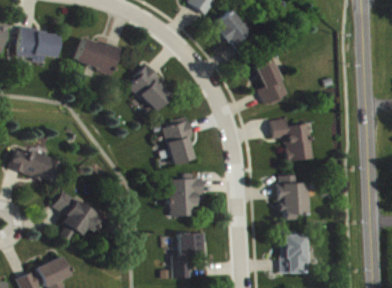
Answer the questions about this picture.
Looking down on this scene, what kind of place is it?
residential area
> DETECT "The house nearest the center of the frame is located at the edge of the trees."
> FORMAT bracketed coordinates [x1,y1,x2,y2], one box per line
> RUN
[160,120,198,167]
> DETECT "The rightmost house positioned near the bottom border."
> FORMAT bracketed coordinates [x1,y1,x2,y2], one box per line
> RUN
[278,232,309,274]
